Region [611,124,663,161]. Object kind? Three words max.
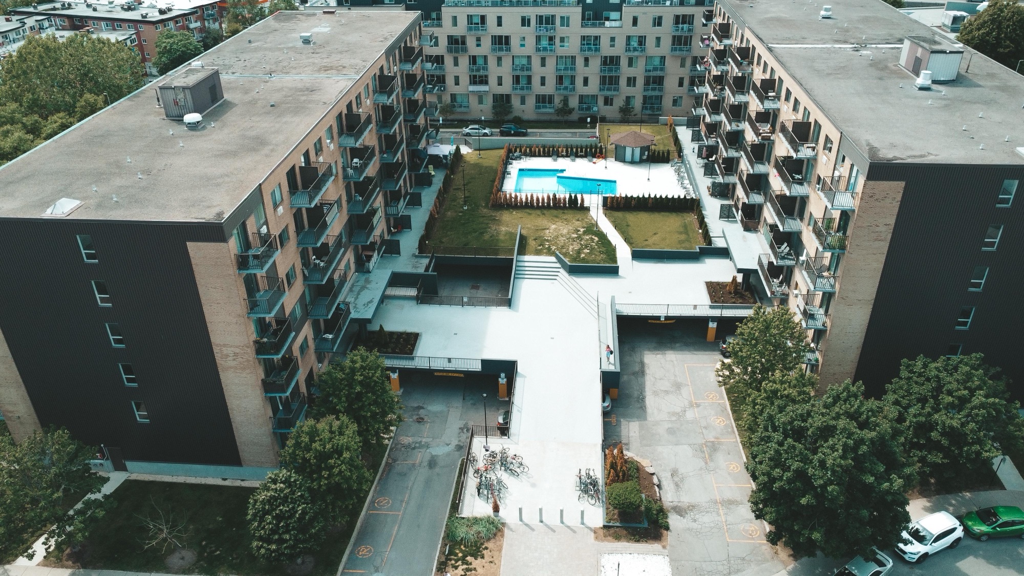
building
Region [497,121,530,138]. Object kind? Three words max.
car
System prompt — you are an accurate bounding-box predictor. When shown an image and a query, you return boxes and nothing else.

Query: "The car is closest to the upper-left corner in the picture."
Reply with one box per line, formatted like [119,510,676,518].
[461,123,496,137]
